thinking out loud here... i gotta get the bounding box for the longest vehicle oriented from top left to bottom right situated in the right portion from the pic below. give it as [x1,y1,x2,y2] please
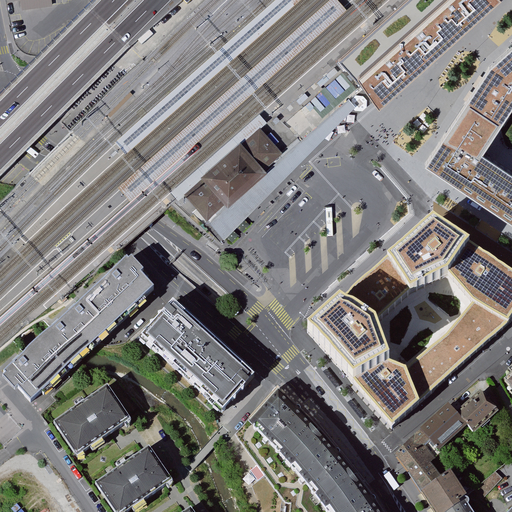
[383,471,400,491]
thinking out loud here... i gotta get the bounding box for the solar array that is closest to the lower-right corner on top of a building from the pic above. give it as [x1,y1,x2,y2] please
[362,365,410,412]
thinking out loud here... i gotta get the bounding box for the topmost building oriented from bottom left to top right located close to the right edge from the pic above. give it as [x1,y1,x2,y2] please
[360,0,508,114]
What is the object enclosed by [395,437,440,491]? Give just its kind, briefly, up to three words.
house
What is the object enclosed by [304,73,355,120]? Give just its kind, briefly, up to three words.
building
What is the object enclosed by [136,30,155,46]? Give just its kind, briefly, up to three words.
vehicle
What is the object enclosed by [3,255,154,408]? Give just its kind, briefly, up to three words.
building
